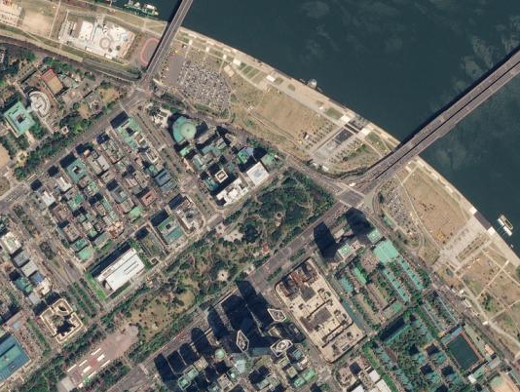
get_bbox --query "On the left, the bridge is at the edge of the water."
[139,0,192,88]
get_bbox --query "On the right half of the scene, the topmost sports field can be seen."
[448,331,483,370]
